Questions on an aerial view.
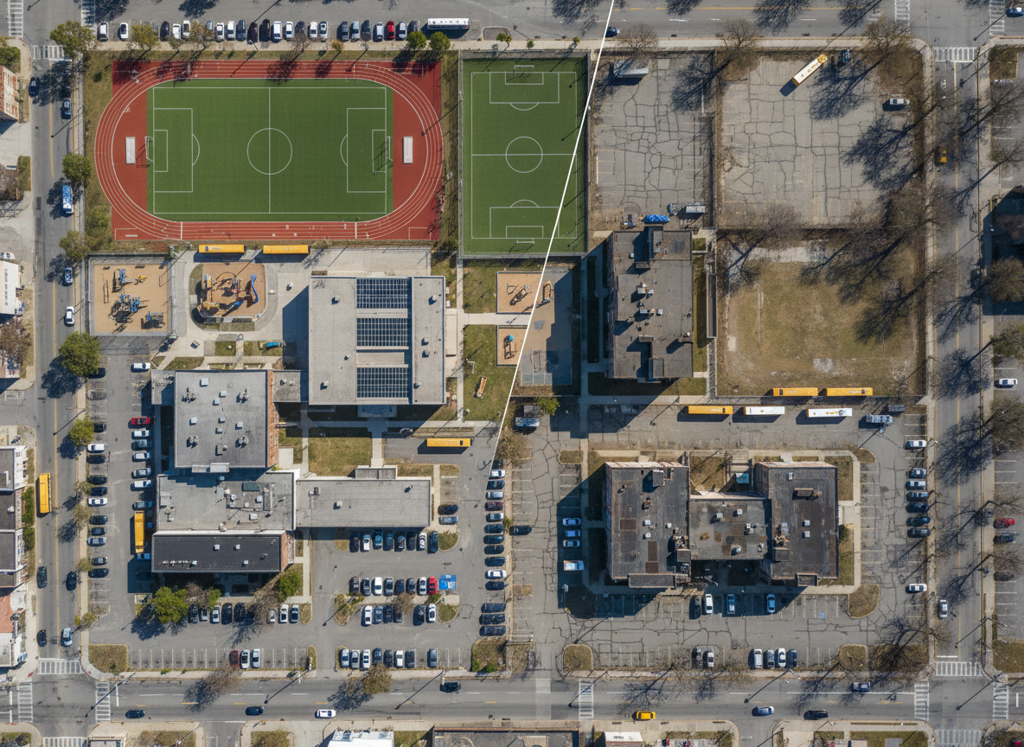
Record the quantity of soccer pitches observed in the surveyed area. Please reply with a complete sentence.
The number of soccer pitches here is 2.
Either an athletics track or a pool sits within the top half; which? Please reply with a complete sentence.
Looking within the top half, you will find an athletics track.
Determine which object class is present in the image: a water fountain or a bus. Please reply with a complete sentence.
It is a bus that can be seen here.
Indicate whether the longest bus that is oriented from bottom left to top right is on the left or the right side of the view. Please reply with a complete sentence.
The longest bus that is oriented from bottom left to top right is on the right side of the image.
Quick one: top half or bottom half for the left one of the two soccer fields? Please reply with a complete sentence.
The left one of the two soccer fields is in the top half of the image.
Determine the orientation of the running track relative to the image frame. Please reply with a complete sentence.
What the image shows is the running track lying from side to side.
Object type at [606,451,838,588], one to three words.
building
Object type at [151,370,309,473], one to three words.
building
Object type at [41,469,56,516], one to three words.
vehicle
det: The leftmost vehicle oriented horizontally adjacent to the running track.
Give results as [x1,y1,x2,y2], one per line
[199,243,248,255]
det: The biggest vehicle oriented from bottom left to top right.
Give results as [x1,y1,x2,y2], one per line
[787,53,830,91]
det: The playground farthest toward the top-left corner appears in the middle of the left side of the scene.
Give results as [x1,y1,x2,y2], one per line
[89,254,174,335]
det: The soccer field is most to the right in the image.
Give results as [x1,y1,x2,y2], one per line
[460,50,587,257]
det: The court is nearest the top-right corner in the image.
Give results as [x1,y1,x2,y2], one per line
[522,342,572,386]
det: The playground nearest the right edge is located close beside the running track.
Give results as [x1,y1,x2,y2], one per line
[198,264,264,316]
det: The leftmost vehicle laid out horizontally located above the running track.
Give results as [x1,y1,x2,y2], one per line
[428,19,471,33]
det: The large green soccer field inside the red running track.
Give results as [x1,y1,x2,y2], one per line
[146,79,393,221]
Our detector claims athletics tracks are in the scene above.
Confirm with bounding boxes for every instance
[94,60,443,240]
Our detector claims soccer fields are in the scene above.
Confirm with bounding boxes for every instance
[460,50,587,257]
[146,79,393,221]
